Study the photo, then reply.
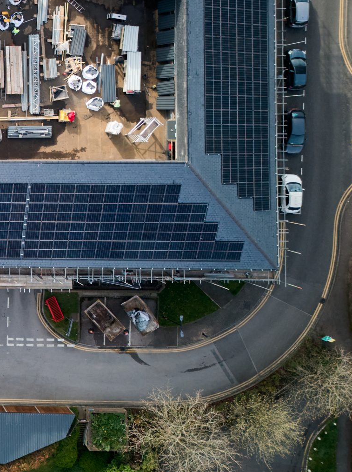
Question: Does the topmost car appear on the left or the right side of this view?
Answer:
right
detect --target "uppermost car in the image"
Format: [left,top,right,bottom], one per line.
[285,0,310,29]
